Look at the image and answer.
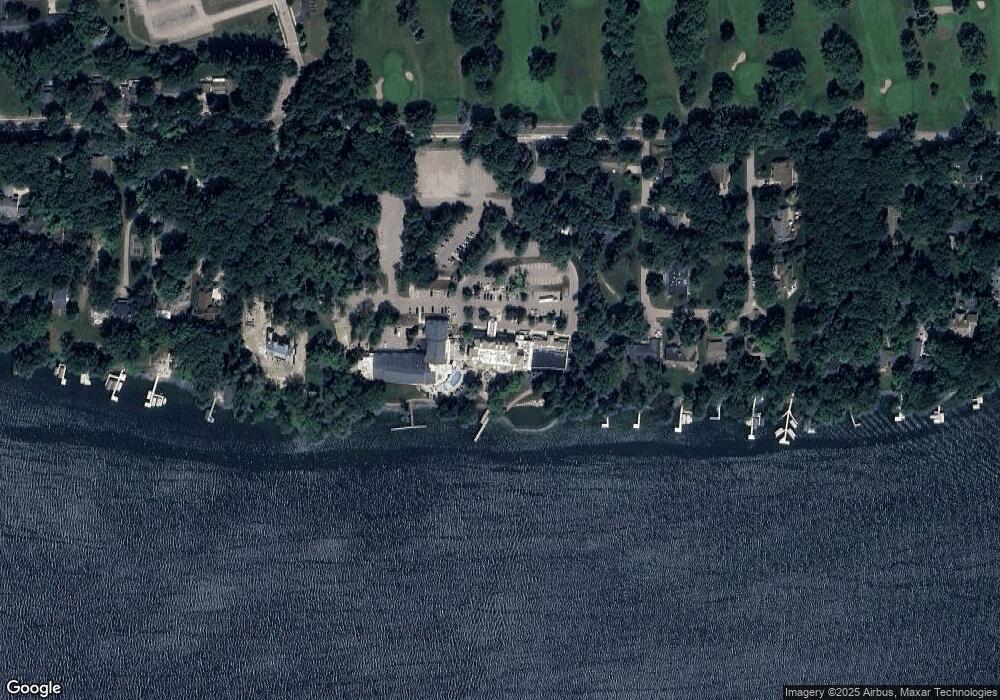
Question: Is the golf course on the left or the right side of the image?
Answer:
right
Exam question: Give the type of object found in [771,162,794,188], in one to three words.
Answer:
house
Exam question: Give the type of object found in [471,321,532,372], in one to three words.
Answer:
building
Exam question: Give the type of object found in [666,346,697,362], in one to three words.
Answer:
house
